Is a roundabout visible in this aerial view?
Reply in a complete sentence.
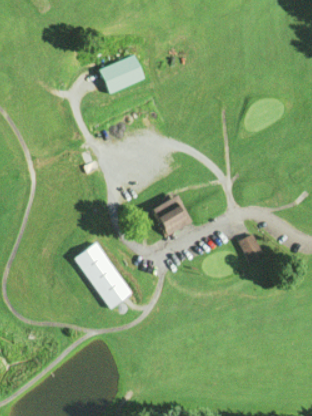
No, no roundabout can be seen from above.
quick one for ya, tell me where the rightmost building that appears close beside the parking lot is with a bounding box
[154,194,192,235]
